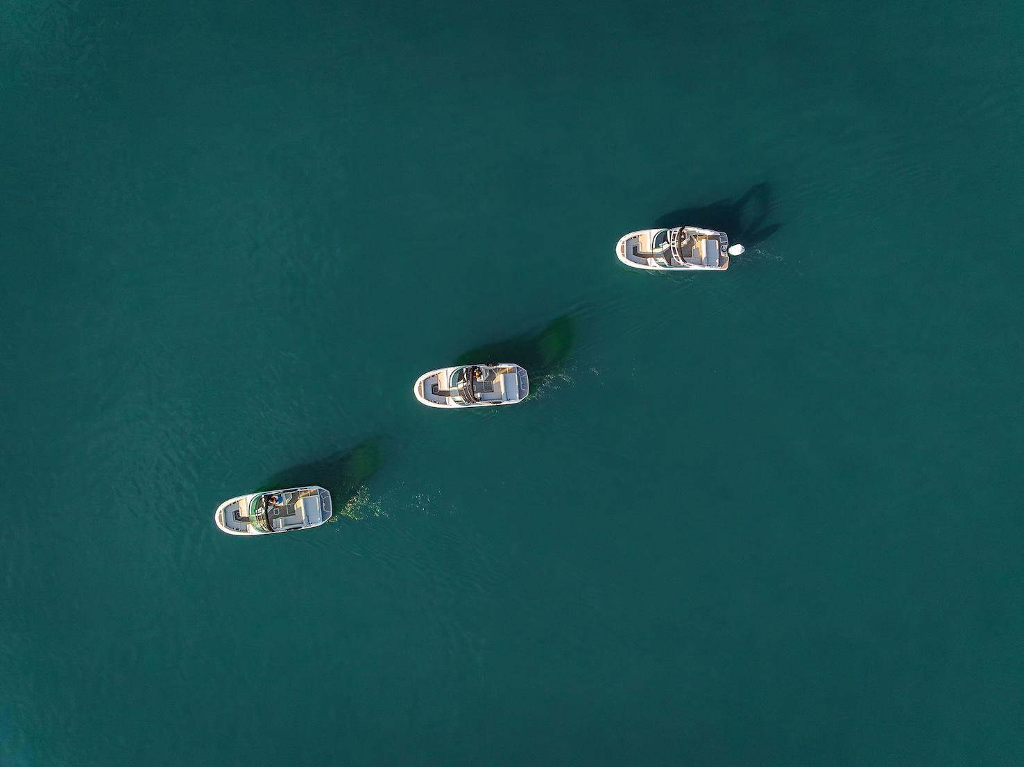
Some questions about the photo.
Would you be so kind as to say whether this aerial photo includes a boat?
Yes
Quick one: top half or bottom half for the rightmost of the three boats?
top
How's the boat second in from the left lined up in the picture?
from side to side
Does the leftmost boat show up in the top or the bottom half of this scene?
bottom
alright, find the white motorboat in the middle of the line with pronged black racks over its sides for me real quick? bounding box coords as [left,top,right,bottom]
[414,358,529,412]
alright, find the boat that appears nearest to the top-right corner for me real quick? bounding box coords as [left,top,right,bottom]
[616,227,745,271]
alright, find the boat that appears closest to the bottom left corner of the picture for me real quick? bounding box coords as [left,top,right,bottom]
[215,486,332,535]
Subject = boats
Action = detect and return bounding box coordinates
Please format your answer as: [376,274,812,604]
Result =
[616,227,745,271]
[215,486,332,535]
[414,358,529,412]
